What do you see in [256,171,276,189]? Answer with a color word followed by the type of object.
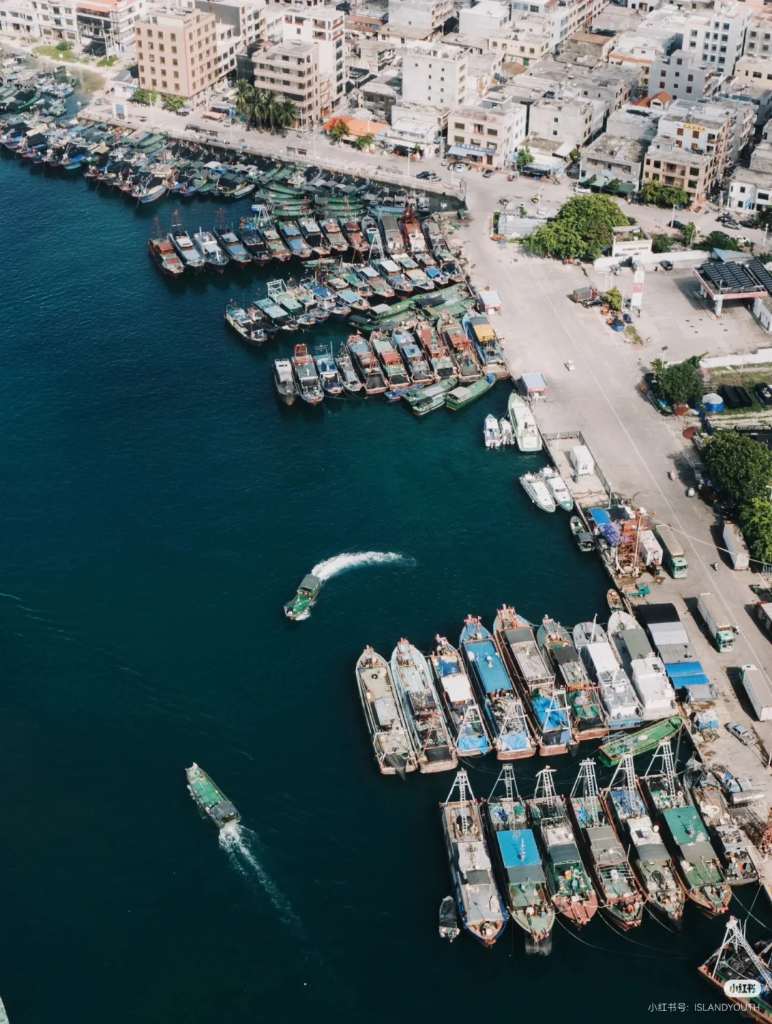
gray boat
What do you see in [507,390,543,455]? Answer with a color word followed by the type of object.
white boat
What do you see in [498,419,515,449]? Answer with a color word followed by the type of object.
white boat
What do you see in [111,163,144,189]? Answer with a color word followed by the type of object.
gray boat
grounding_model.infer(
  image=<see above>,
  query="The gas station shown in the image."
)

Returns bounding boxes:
[697,246,772,317]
